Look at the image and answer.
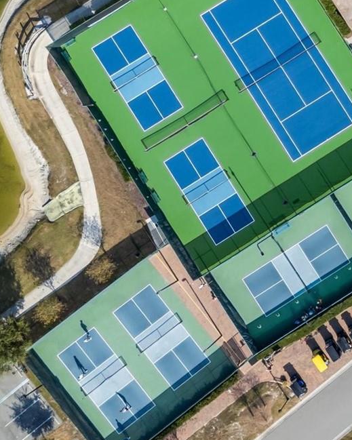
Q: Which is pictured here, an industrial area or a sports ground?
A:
sports ground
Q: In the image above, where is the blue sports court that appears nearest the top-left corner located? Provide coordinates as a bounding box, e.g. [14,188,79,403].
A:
[91,24,182,130]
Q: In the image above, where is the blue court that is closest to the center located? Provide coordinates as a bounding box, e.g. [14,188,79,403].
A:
[163,138,253,245]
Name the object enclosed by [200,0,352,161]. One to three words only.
tennis court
